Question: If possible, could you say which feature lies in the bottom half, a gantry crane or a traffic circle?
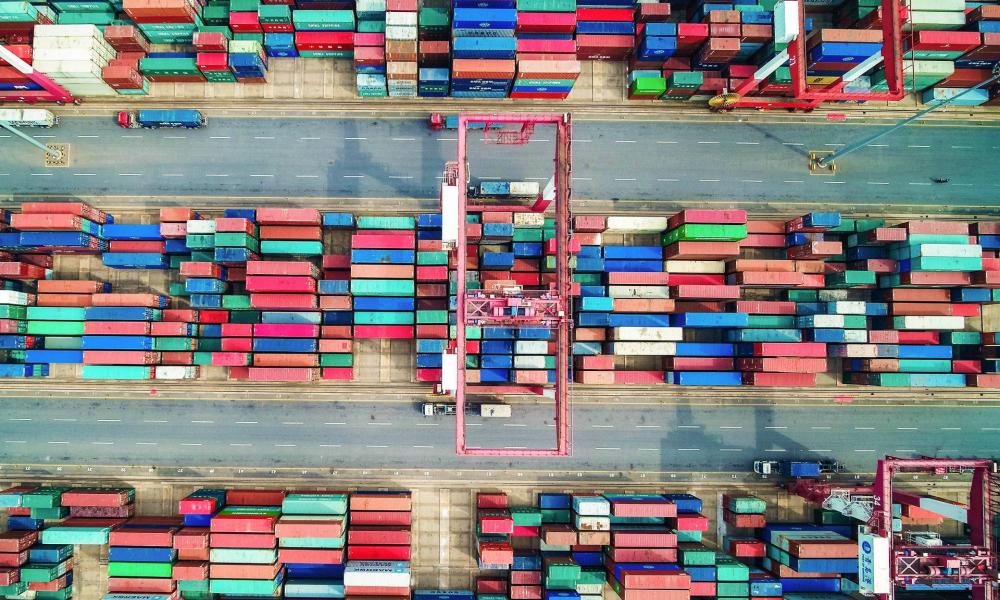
gantry crane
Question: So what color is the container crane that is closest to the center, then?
pink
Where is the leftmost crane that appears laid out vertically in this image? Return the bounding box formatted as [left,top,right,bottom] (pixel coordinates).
[429,112,578,456]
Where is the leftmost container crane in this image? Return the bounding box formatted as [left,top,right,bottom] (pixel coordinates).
[0,48,77,102]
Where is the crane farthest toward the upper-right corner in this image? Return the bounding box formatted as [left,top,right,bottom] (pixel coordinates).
[698,0,916,110]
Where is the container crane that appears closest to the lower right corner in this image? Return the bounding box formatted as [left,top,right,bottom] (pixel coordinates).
[775,458,1000,600]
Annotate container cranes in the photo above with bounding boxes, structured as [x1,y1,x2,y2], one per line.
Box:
[0,48,77,102]
[698,0,916,110]
[775,458,1000,600]
[429,112,578,456]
